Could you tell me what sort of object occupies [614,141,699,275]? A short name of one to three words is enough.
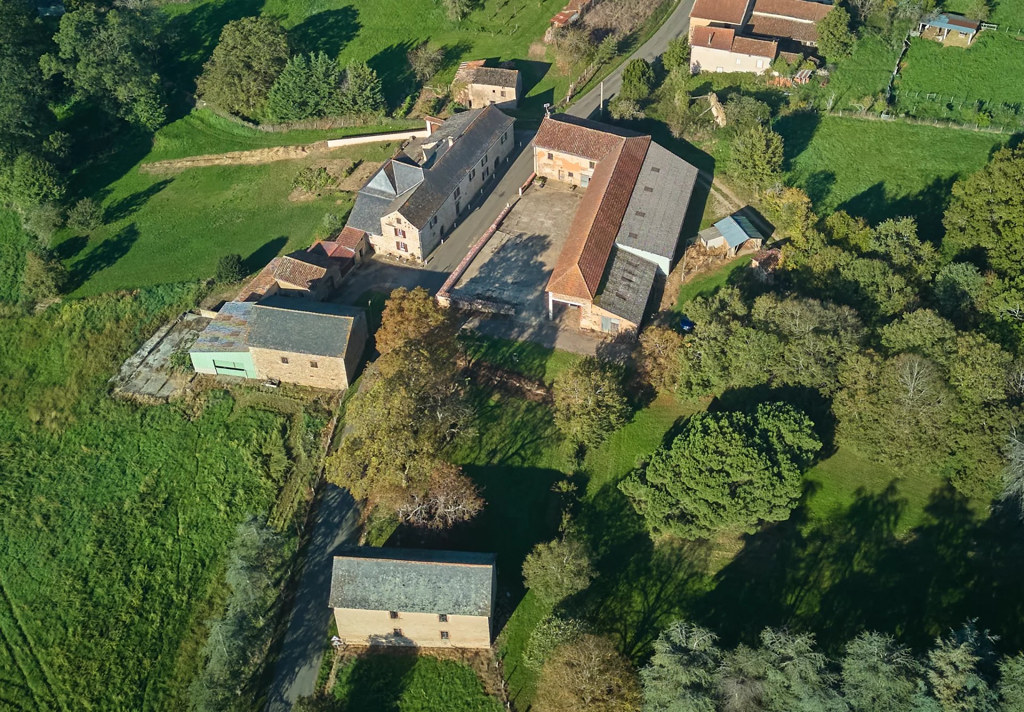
barn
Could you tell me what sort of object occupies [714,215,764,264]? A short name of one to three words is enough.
shed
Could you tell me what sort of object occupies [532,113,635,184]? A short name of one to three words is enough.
house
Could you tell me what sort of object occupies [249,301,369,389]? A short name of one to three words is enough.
barn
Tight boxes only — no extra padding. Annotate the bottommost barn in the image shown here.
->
[329,545,498,648]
